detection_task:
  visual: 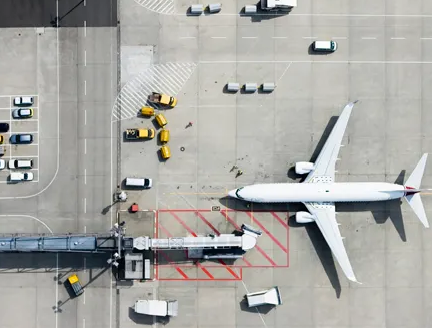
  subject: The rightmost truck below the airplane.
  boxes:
[245,284,282,306]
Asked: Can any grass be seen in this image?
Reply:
No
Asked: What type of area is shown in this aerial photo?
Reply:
airport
